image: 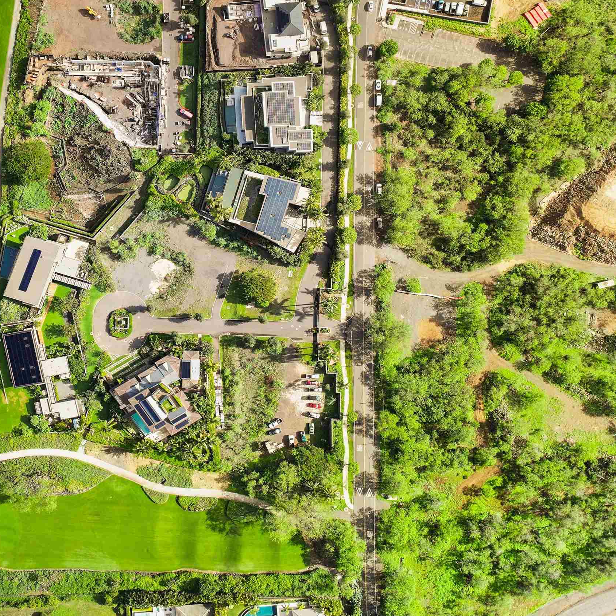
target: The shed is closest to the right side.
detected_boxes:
[523,3,550,27]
